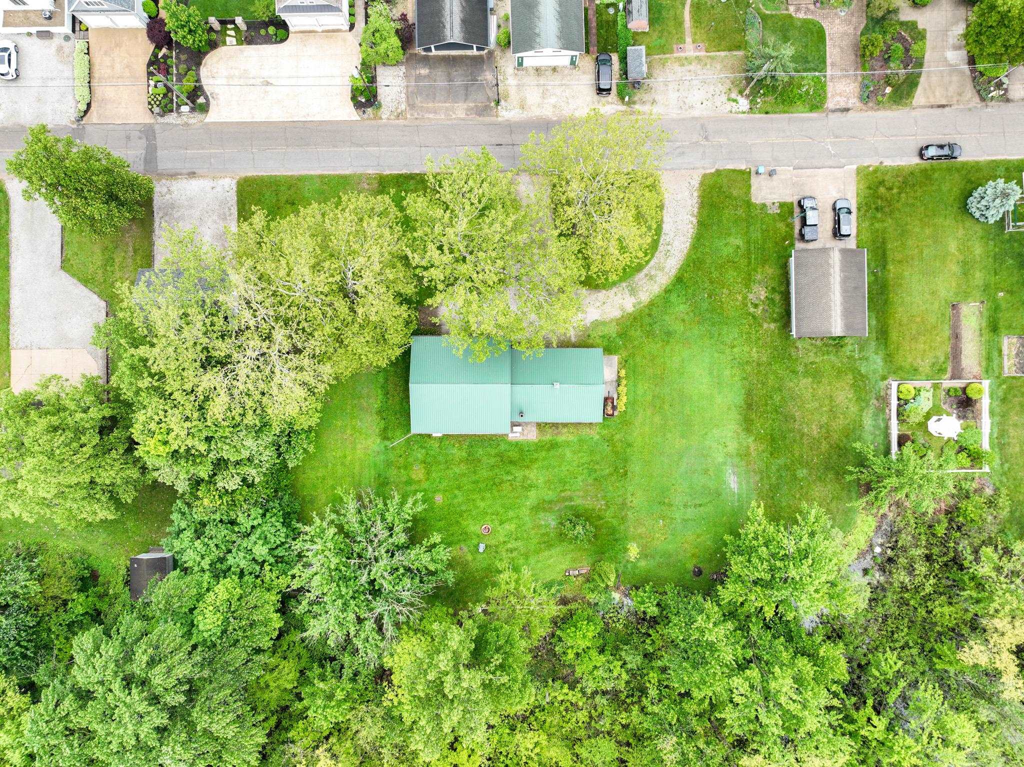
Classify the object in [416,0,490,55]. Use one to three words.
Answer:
building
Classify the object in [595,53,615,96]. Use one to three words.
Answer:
car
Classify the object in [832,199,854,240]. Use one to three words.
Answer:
car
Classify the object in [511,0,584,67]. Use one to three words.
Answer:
building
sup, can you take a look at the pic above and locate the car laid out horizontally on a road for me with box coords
[922,139,965,161]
